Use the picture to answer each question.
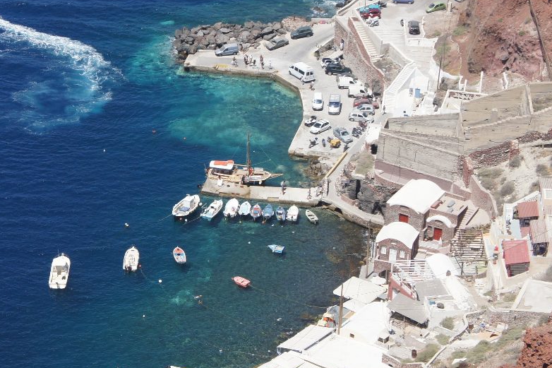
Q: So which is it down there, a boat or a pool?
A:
boat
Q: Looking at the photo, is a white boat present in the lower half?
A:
Yes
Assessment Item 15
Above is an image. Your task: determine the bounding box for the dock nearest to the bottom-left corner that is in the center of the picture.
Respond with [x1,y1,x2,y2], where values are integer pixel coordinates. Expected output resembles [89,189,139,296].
[201,178,318,210]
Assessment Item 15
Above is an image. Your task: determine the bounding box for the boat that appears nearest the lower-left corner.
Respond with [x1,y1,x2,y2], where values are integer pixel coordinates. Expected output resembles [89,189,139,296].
[47,254,68,294]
